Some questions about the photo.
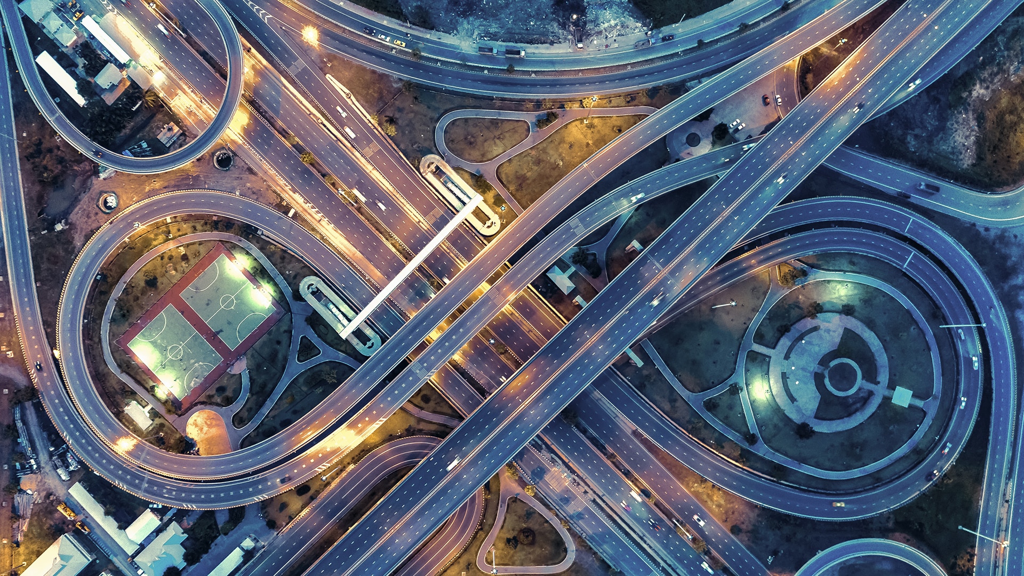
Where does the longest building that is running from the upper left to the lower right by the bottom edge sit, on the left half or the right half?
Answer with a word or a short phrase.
left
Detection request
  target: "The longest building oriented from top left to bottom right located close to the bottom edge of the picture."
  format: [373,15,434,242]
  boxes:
[68,481,142,556]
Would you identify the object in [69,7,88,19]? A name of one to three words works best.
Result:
vehicle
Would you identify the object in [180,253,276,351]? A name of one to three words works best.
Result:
sports court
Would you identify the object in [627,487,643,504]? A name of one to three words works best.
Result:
vehicle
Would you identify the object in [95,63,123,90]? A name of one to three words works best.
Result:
house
